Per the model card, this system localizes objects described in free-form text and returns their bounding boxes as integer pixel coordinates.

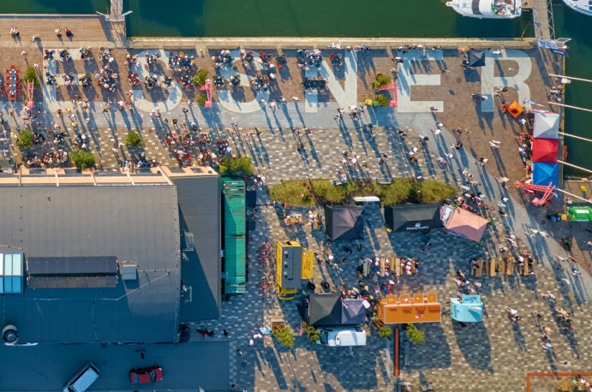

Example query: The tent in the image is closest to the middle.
[325,202,363,240]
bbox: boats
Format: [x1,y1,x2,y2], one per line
[563,0,592,18]
[447,0,520,18]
